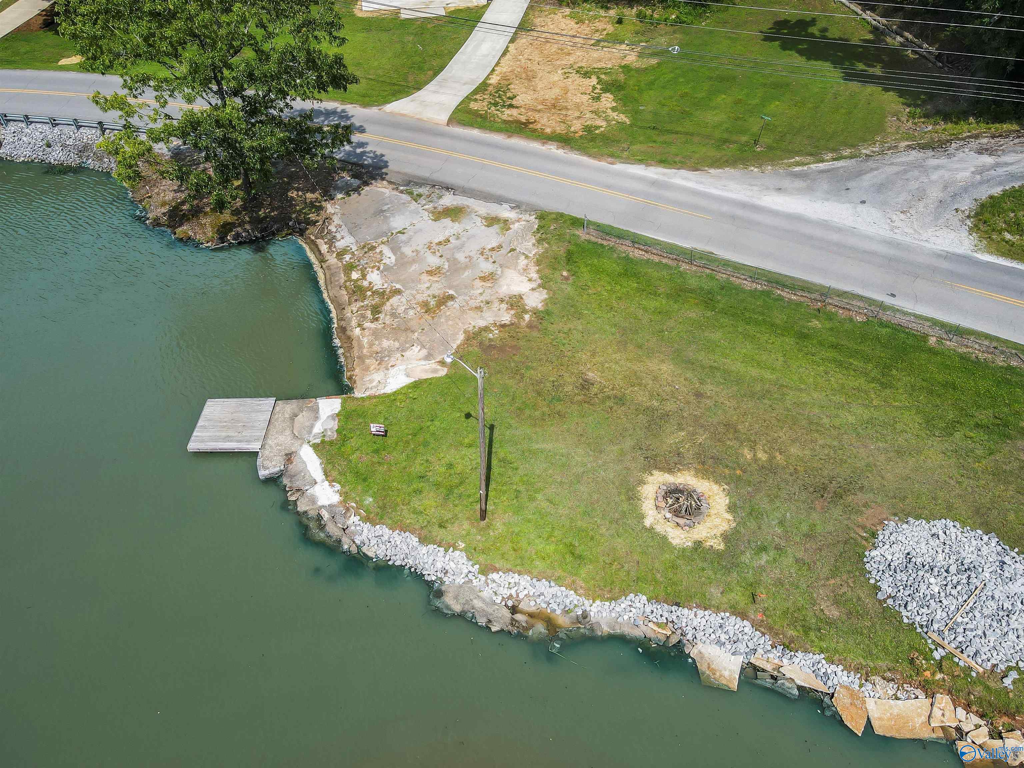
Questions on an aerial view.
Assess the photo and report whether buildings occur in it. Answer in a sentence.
No, no building can be seen from above.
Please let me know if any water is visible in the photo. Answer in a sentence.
Yes, the picture does contain water.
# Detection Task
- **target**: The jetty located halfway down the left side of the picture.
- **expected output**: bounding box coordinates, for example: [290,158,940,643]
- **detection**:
[187,397,277,452]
